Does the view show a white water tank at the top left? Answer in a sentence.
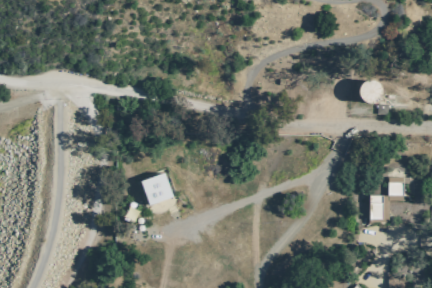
No, looking at the top left, there is no white water tank.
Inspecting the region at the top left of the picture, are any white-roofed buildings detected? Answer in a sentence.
No, I can find no white-roofed building at the top left of the picture.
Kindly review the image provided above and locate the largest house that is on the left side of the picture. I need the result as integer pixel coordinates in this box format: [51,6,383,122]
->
[142,174,174,206]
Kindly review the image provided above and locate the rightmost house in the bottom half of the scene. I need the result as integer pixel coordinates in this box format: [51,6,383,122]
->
[370,178,406,221]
